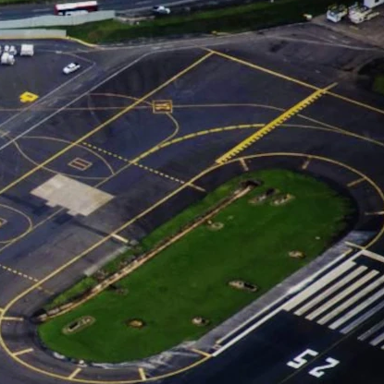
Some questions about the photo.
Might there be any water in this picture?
No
